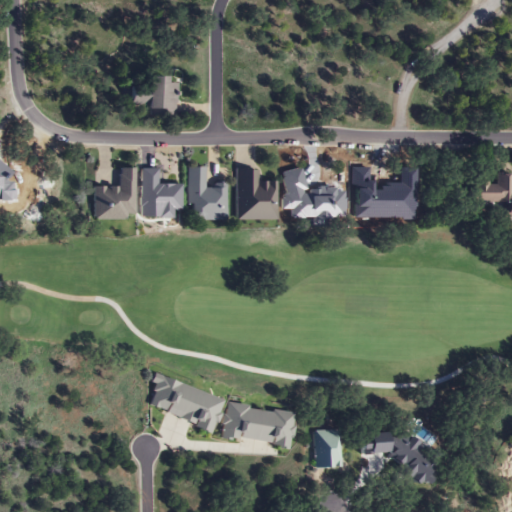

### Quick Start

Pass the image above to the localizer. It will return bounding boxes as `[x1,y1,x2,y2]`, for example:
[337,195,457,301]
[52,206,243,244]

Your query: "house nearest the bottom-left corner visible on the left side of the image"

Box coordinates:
[149,372,224,434]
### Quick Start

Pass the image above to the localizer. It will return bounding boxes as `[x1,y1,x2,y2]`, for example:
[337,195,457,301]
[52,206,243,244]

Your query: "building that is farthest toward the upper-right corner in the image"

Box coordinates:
[480,173,512,204]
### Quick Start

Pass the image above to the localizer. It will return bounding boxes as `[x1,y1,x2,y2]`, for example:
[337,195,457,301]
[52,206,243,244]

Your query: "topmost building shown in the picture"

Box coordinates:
[134,76,181,113]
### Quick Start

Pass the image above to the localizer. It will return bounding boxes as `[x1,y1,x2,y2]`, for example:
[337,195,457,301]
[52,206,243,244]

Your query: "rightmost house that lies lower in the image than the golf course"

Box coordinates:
[374,432,438,486]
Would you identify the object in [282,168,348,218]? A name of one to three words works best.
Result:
house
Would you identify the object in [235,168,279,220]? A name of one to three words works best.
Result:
house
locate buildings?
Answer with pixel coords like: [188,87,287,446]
[220,402,296,450]
[350,167,419,218]
[142,168,184,218]
[94,168,138,220]
[235,168,279,220]
[312,430,344,468]
[374,432,438,486]
[149,372,224,434]
[480,173,512,204]
[134,76,181,113]
[282,168,348,218]
[188,166,230,220]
